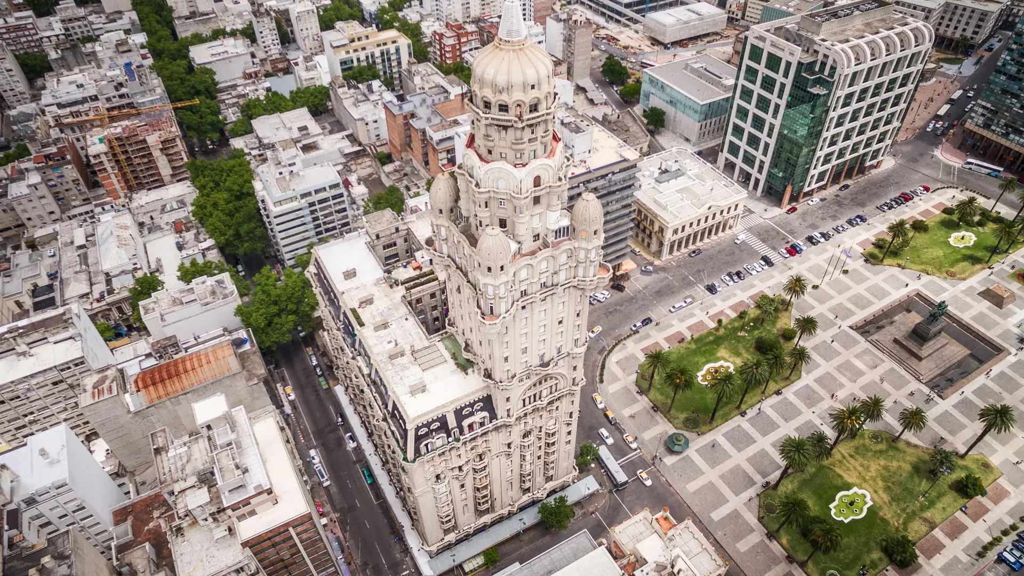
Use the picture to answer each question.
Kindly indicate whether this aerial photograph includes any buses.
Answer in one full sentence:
Yes, this view includes a bus.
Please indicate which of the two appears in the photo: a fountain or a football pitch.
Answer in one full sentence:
Of the two, only a fountain appears.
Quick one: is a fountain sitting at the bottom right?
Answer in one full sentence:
Yes, a fountain appears at the bottom right.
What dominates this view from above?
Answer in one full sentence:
For the most part, this view shows buildings.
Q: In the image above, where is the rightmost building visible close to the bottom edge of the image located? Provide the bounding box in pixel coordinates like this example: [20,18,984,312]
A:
[607,485,744,576]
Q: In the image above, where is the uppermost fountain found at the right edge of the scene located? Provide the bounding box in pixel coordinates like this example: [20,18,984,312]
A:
[948,230,977,247]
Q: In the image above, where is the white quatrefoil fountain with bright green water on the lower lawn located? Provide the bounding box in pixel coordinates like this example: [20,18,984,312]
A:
[830,486,874,522]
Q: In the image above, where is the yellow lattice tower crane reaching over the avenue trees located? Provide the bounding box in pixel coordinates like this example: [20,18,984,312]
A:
[67,97,199,209]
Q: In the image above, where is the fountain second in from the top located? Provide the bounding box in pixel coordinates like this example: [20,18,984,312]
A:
[698,358,735,384]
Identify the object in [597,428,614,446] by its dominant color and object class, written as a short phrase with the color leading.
white car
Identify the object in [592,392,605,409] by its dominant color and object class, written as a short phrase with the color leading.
white vehicle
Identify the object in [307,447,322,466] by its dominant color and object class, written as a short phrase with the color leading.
white car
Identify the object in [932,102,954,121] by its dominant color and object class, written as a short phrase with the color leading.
white vehicle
